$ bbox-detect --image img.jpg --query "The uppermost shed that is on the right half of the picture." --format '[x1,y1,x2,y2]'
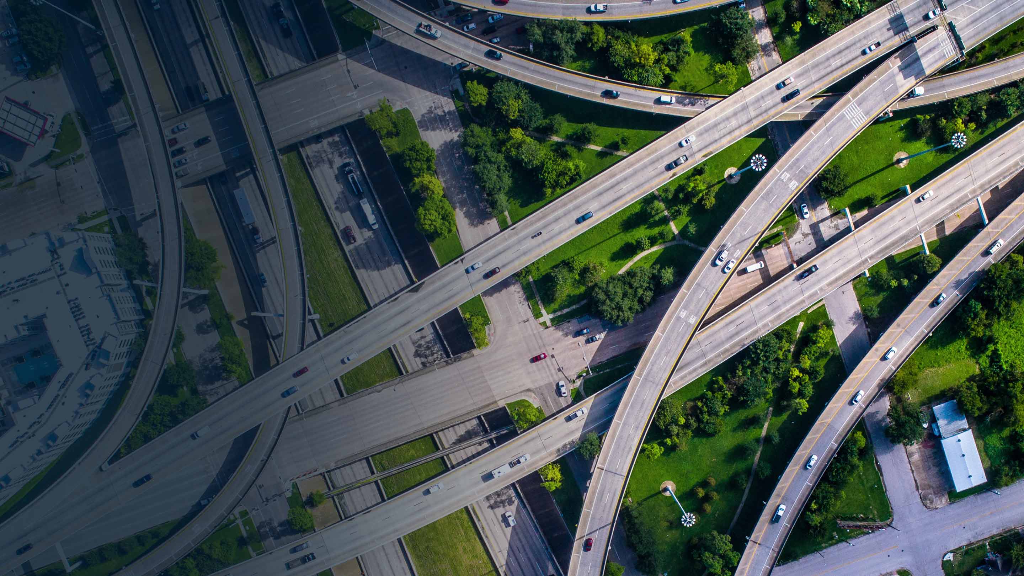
[929,399,968,438]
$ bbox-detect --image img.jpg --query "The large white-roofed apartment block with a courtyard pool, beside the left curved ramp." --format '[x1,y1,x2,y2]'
[0,231,141,490]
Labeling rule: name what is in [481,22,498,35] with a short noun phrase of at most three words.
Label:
vehicle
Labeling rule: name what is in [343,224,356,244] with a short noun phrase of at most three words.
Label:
vehicle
